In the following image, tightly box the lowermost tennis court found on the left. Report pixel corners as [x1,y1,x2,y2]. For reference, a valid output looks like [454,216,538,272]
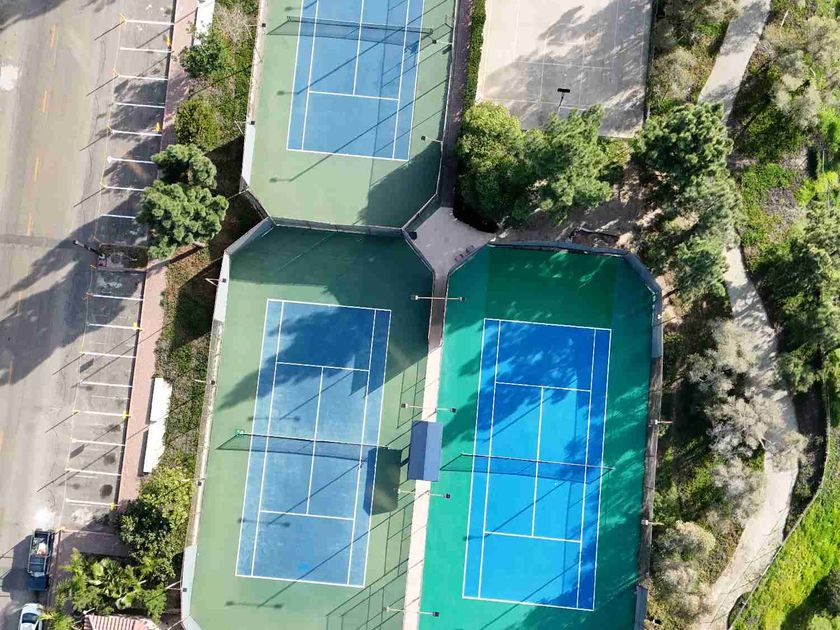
[193,228,432,630]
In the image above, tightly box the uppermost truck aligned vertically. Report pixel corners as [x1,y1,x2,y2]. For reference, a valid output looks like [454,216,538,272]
[25,526,57,592]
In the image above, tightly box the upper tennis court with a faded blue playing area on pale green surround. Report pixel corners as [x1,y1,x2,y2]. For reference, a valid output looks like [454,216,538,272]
[250,0,455,230]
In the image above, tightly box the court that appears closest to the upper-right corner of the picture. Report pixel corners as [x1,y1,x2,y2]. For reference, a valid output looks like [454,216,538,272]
[476,0,652,139]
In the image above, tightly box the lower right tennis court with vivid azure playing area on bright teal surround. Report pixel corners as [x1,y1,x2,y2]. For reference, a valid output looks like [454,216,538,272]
[418,245,655,630]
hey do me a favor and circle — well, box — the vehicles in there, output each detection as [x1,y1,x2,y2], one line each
[25,526,57,592]
[18,602,46,630]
